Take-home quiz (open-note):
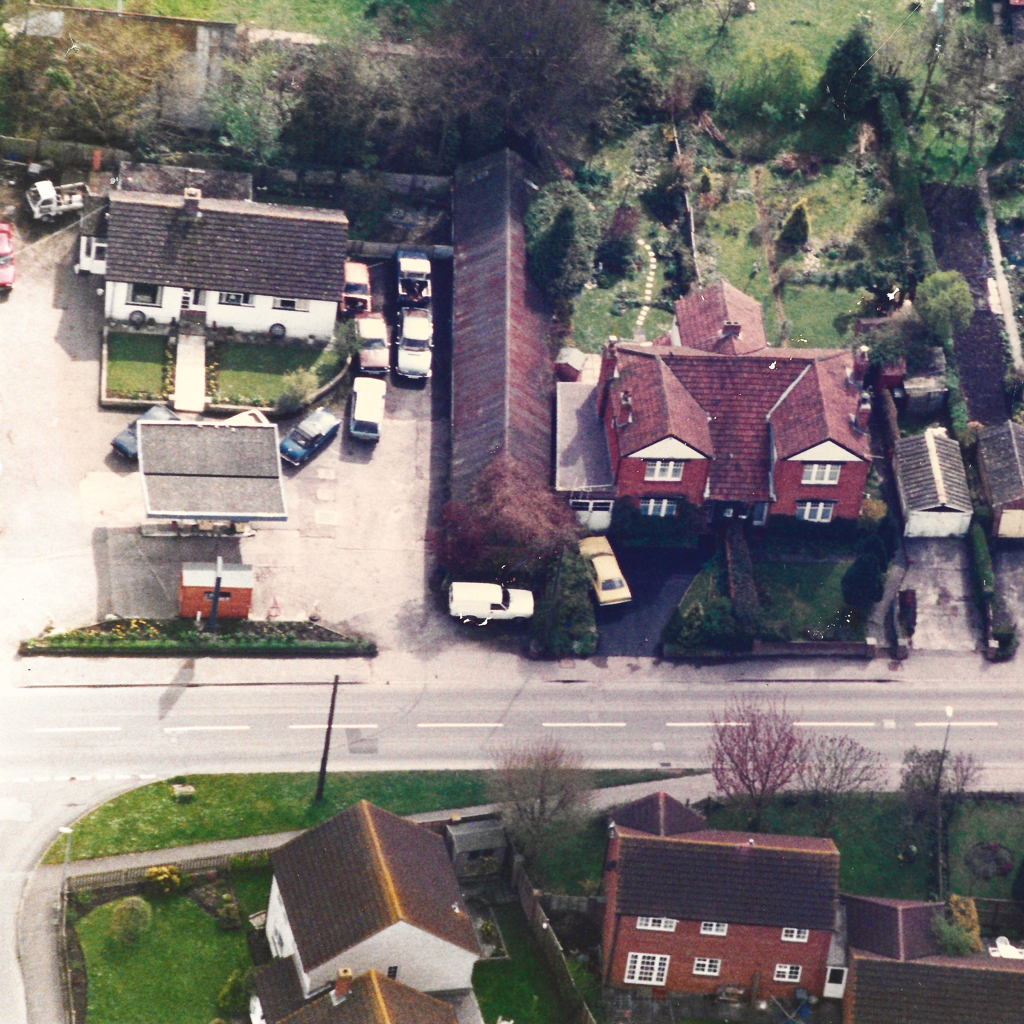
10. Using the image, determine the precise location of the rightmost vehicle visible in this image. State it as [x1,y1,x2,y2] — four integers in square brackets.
[571,533,632,602]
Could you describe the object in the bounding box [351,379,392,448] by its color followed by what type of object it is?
white car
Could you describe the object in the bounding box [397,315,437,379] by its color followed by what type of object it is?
white car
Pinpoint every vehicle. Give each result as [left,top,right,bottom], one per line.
[397,315,437,379]
[280,410,346,470]
[105,412,182,465]
[571,533,632,602]
[448,585,537,630]
[351,379,392,448]
[27,178,89,224]
[343,256,379,313]
[230,398,275,421]
[357,313,396,374]
[397,249,436,308]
